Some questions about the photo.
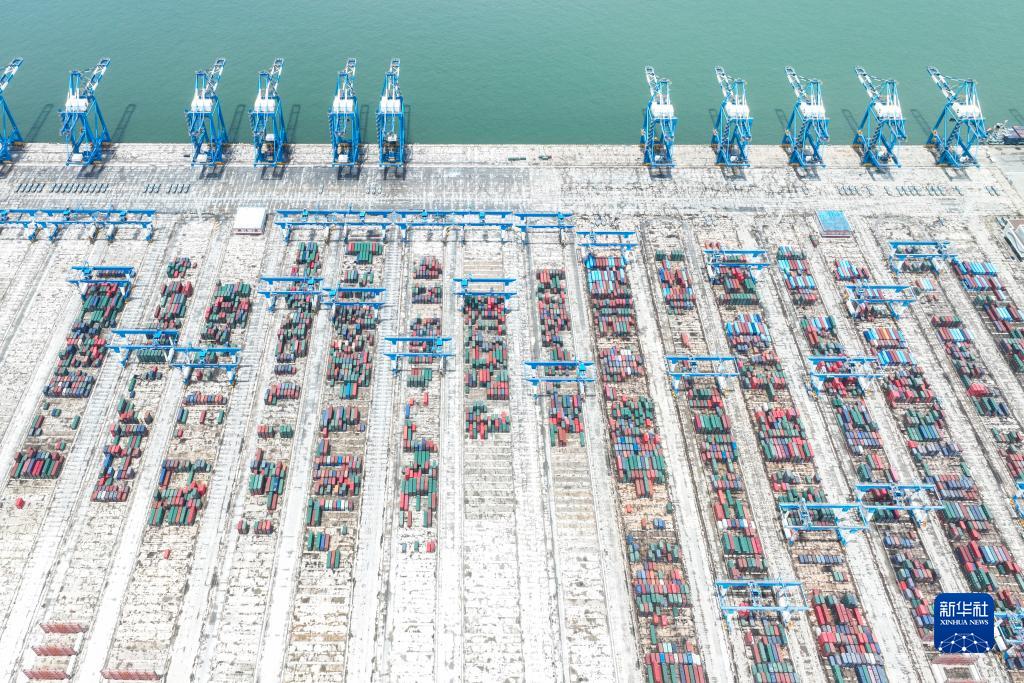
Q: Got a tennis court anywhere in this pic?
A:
No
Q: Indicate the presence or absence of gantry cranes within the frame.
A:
Yes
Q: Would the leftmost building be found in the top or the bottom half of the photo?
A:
top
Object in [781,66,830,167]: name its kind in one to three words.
container crane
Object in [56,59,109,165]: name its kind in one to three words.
container crane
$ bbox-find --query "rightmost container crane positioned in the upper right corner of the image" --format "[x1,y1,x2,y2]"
[928,66,991,167]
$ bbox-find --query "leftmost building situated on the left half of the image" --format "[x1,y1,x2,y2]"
[231,208,270,235]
